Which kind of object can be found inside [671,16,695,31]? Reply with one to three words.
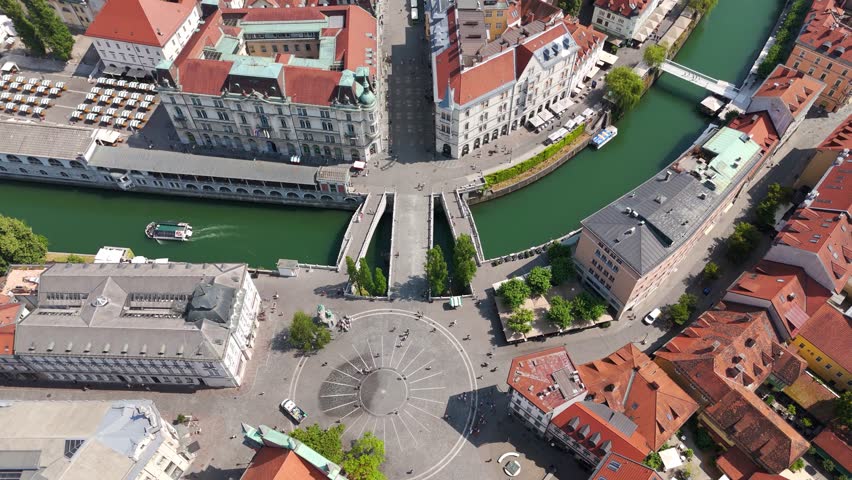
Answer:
umbrella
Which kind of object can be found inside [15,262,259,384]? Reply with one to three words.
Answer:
building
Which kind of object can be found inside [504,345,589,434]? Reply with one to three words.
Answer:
house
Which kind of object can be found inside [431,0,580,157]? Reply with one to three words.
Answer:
building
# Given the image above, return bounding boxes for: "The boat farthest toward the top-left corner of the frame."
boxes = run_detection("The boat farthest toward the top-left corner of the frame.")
[143,223,195,241]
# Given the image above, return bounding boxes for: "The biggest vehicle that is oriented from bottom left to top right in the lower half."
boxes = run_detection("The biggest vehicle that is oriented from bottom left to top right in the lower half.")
[643,305,662,324]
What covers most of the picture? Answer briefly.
buildings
